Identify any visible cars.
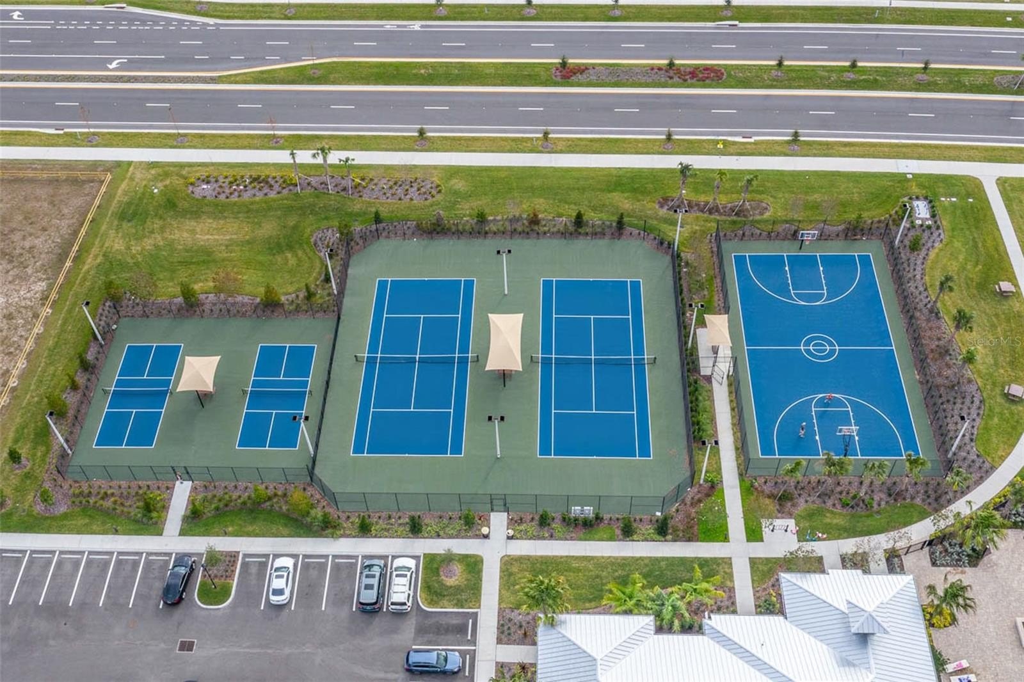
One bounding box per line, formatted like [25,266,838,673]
[389,559,416,612]
[404,649,462,677]
[269,556,295,606]
[161,554,196,606]
[358,560,385,613]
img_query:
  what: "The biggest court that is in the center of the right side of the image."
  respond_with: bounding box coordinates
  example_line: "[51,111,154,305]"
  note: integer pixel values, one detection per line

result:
[733,253,920,458]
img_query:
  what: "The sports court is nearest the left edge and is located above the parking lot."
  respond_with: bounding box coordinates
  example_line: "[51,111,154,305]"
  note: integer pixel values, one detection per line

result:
[93,344,183,447]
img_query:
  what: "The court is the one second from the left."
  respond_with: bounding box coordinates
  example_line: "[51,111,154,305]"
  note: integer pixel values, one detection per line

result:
[235,344,316,449]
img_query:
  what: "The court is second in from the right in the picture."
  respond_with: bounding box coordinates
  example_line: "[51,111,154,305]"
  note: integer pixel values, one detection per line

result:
[530,279,656,458]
